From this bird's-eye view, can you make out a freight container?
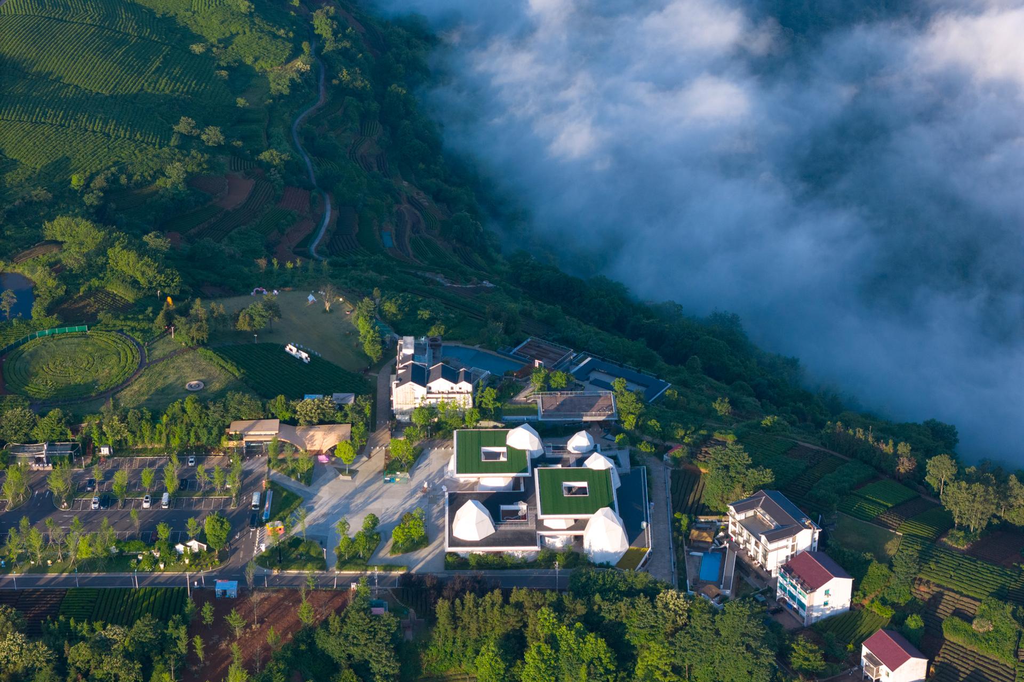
No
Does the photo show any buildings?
Yes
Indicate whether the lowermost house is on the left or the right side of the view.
right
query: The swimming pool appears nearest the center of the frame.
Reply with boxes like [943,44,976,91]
[442,346,524,375]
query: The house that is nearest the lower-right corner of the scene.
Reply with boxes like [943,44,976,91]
[851,626,926,682]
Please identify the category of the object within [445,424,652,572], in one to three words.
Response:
building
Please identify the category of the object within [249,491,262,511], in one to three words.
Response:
vehicle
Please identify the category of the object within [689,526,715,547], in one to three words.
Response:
gazebo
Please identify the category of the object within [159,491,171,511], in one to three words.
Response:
vehicle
